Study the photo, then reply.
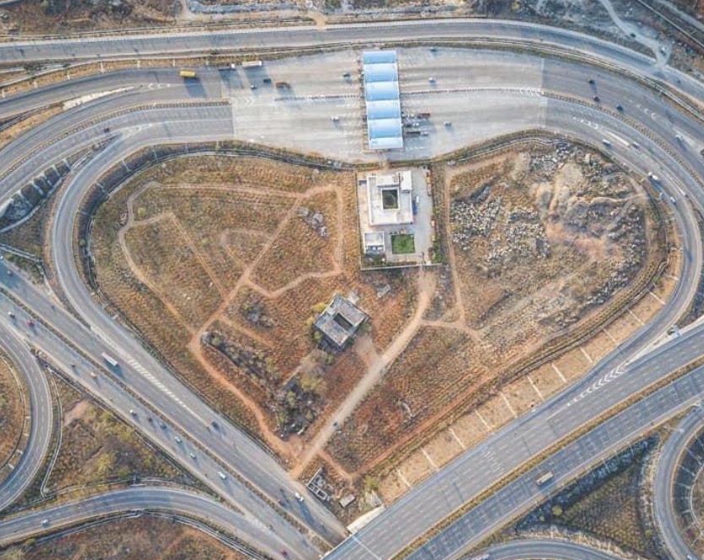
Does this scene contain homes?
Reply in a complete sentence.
Yes, the image includes a home.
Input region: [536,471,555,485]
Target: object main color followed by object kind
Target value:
white vehicle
